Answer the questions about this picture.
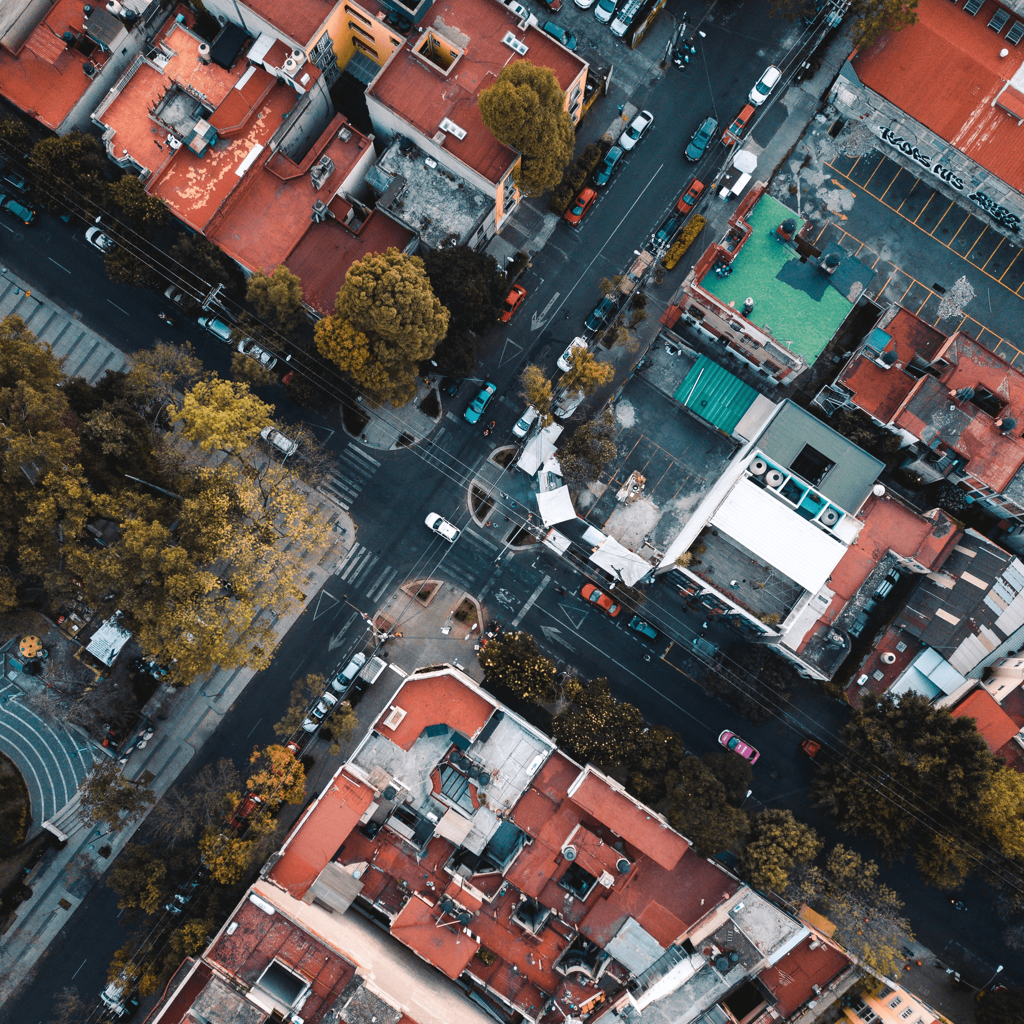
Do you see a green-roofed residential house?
Yes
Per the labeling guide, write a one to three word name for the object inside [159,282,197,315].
car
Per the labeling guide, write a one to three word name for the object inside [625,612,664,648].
car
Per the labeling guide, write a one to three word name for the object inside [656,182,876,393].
house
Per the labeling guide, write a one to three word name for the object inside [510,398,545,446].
vehicle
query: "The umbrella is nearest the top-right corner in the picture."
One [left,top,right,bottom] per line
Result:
[728,148,759,178]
